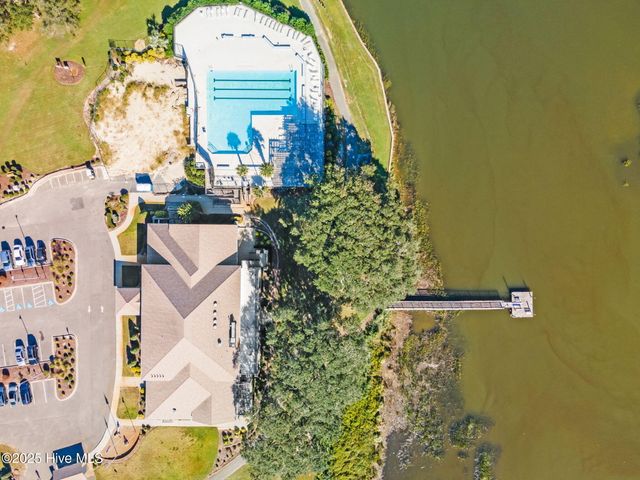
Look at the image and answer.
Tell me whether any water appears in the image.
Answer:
Yes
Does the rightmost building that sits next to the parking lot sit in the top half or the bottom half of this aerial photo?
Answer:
bottom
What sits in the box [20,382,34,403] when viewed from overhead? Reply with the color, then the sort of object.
blue vehicle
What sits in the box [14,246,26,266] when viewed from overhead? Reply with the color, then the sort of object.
white vehicle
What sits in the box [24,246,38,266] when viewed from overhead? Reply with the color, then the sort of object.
blue vehicle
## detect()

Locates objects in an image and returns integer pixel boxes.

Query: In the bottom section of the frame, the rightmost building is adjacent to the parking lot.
[116,222,260,428]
